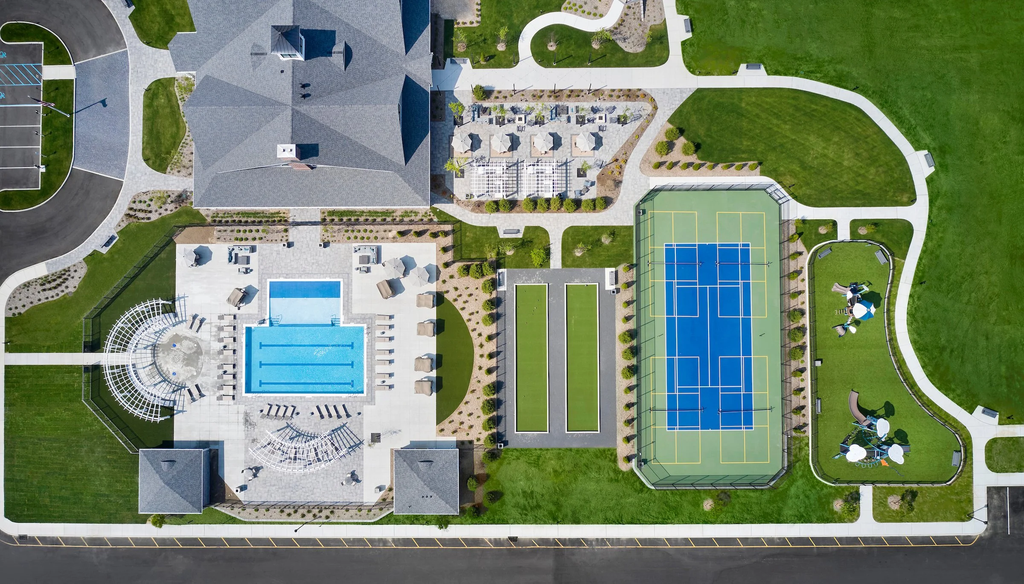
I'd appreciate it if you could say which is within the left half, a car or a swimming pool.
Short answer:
swimming pool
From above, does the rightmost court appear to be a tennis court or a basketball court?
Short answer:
tennis court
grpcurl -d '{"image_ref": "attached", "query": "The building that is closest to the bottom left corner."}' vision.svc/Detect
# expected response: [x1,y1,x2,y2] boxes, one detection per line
[139,447,209,514]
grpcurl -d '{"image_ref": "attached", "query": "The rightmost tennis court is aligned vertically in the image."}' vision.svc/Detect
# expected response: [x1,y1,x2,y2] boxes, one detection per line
[633,189,784,487]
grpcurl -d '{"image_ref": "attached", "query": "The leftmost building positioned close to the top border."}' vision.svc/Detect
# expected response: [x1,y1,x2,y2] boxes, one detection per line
[166,0,436,209]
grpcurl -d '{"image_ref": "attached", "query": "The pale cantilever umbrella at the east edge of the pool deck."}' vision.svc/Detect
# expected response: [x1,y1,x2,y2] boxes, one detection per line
[408,266,435,289]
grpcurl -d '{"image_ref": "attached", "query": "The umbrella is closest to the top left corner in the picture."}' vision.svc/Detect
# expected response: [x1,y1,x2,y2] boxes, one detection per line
[177,246,198,266]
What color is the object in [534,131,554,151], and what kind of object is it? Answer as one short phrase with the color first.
white umbrella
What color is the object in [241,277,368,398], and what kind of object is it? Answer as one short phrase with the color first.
blue swimming pool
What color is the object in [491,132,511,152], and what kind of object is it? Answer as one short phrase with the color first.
white umbrella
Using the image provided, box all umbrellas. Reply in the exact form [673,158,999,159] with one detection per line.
[451,132,472,152]
[382,258,405,278]
[177,246,198,266]
[534,131,554,151]
[408,266,435,289]
[491,132,511,152]
[575,131,596,151]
